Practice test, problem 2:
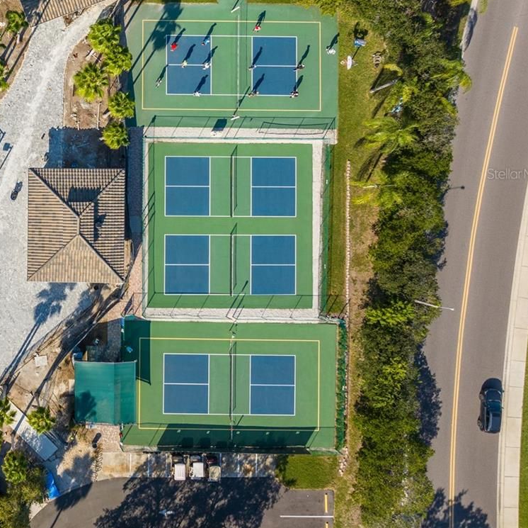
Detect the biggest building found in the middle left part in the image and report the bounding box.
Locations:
[27,168,126,283]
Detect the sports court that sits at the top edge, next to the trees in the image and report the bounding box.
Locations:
[127,0,338,128]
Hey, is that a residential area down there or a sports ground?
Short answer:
sports ground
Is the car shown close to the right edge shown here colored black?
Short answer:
Yes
